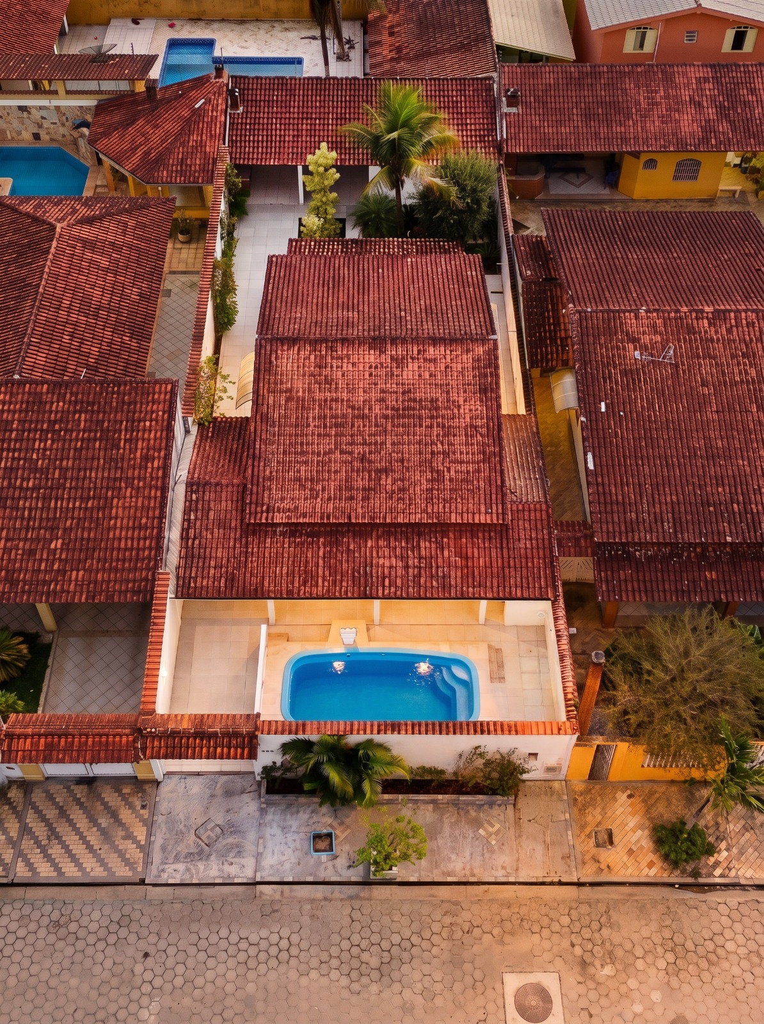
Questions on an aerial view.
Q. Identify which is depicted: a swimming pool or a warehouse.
swimming pool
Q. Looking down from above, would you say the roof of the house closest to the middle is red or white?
red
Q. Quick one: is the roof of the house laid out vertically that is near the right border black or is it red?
red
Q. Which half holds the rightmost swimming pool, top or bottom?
bottom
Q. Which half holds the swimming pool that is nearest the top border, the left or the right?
left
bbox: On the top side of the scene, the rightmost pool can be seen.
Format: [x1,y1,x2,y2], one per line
[160,38,304,101]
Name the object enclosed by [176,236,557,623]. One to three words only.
house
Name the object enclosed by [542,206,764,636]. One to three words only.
house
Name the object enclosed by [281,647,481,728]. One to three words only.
swimming pool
